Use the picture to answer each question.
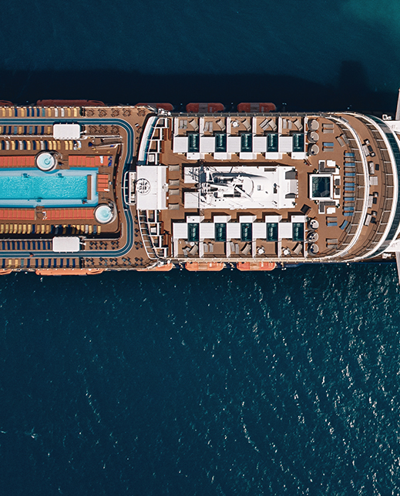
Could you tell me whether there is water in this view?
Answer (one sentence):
Yes, some water is visible.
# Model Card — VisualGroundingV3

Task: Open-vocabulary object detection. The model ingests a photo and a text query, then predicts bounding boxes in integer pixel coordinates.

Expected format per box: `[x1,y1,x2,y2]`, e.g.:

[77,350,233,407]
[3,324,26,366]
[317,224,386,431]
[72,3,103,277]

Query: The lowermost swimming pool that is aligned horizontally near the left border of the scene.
[0,167,98,207]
